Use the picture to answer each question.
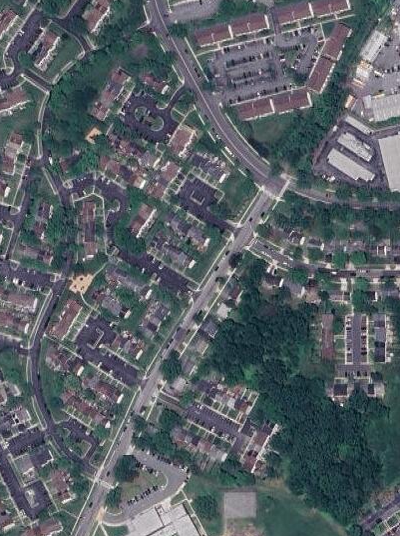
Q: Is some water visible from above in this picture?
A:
No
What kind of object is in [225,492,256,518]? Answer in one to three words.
sports court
